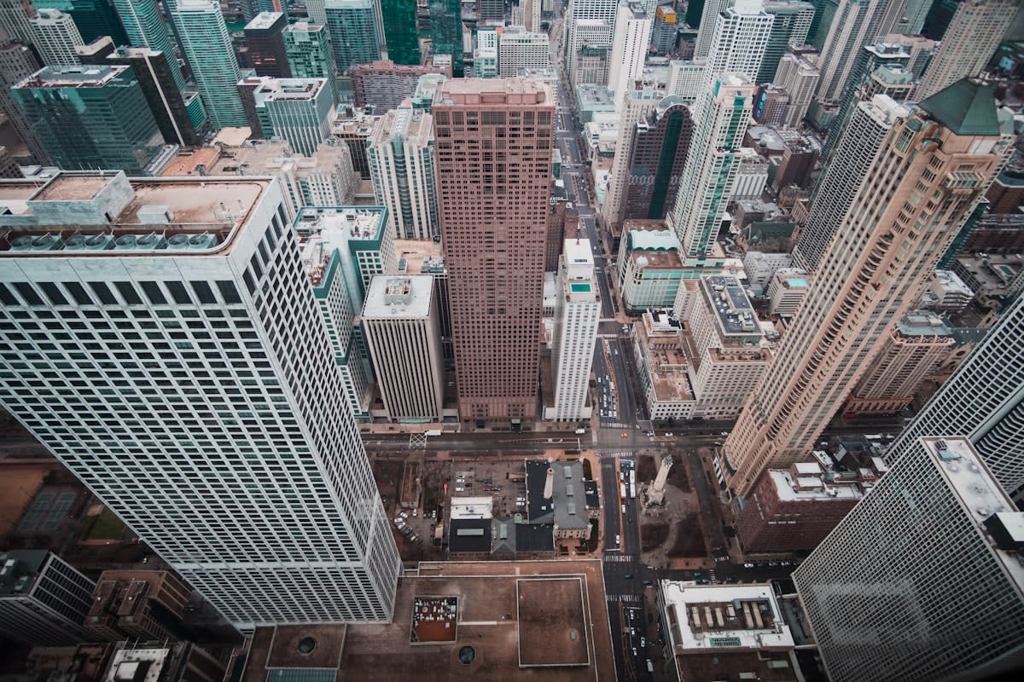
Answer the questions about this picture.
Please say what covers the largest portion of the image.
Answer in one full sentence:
Most of the picture is covered by buildings.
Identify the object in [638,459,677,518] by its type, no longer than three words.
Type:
water tower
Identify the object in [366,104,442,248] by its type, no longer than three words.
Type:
building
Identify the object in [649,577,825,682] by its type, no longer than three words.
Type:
building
